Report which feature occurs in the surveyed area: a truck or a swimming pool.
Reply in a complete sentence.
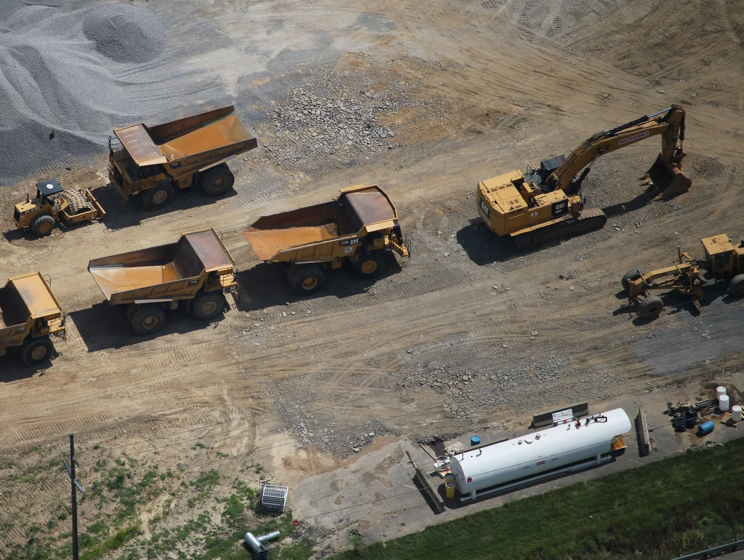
The one in the frame is a truck.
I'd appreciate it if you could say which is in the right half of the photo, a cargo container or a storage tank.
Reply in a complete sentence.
There is a storage tank in the right half of the photo.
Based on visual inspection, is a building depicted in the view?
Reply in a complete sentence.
No, the scene contains no building.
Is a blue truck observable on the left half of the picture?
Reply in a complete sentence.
No, looking on the left half of the picture, there is no blue truck.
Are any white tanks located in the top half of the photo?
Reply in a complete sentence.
No, in the top half of the photo there is no white tank.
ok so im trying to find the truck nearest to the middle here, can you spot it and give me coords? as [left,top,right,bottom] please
[244,183,409,297]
